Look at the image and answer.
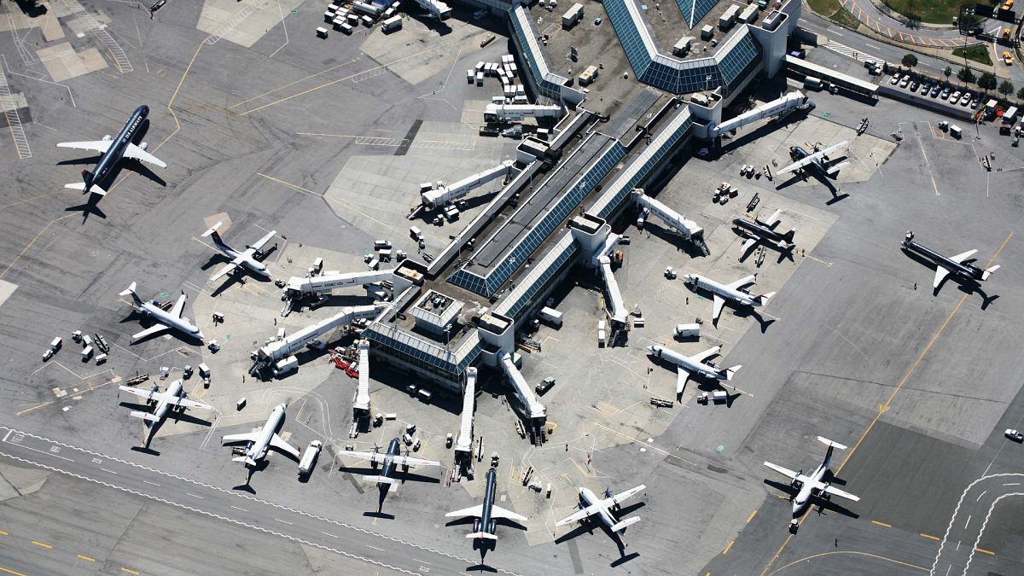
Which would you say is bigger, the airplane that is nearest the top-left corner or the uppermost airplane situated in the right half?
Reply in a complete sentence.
Compared with the uppermost airplane situated in the right half, the airplane that is nearest the top-left corner is the larger one.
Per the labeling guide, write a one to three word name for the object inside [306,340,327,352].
vehicle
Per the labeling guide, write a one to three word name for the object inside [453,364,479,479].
jet bridge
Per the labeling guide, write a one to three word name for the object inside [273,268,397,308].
jet bridge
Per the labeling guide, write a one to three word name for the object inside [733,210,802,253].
airplane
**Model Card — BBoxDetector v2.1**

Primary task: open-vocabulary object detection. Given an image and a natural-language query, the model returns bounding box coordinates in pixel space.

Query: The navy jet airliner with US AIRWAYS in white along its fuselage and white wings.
[56,108,169,196]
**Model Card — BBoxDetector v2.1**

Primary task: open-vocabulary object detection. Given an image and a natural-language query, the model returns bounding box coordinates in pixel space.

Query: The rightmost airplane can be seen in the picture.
[902,241,1001,287]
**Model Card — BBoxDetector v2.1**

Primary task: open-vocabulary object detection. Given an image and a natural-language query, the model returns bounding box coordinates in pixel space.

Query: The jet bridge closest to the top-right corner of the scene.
[703,89,814,150]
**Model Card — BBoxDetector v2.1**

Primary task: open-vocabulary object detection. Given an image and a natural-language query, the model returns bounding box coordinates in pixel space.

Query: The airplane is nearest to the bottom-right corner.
[764,438,861,512]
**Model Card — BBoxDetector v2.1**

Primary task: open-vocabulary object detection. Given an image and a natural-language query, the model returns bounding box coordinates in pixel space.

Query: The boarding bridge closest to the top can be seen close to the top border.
[418,0,448,35]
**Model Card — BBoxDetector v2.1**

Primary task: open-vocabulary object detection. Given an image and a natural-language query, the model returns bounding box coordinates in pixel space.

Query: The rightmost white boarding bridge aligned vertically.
[597,253,629,348]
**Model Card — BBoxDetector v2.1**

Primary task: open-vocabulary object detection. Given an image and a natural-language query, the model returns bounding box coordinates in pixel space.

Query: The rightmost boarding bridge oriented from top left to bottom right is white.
[630,184,708,257]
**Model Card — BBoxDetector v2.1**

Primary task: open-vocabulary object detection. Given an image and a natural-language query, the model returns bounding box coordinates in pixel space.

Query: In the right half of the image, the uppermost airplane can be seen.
[775,139,849,181]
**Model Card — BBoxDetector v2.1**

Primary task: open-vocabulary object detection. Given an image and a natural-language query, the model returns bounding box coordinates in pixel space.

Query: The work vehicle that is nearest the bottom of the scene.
[788,513,800,536]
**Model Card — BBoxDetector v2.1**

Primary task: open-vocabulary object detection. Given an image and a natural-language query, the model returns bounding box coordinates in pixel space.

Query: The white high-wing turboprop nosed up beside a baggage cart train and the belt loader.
[118,378,212,430]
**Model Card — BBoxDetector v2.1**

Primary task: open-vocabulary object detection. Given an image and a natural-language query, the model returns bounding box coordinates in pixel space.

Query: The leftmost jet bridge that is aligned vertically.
[353,336,372,435]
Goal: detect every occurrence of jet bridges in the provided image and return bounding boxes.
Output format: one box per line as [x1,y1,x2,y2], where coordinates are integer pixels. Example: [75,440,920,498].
[501,348,545,446]
[273,268,397,308]
[703,89,814,150]
[418,0,448,35]
[425,157,516,223]
[453,364,479,479]
[630,184,708,257]
[597,253,629,348]
[479,102,561,129]
[353,336,372,435]
[255,304,382,385]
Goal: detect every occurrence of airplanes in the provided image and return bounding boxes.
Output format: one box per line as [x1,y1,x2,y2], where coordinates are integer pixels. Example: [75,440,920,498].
[203,222,277,280]
[118,378,212,430]
[764,438,861,512]
[120,283,203,341]
[220,405,299,466]
[338,437,441,493]
[775,139,849,181]
[445,468,527,545]
[684,273,775,319]
[56,108,169,196]
[554,484,647,537]
[733,210,802,253]
[648,345,741,393]
[902,241,1001,287]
